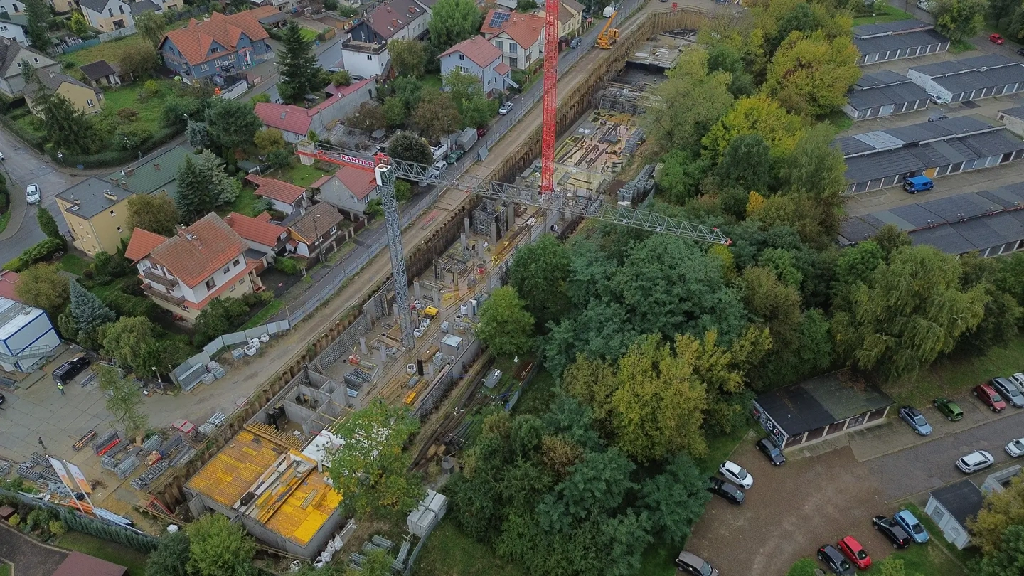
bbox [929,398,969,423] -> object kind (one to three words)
car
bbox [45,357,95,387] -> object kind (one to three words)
car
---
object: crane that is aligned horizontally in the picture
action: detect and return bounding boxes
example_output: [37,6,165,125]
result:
[294,147,731,357]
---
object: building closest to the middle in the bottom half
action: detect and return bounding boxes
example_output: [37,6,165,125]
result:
[436,333,460,362]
